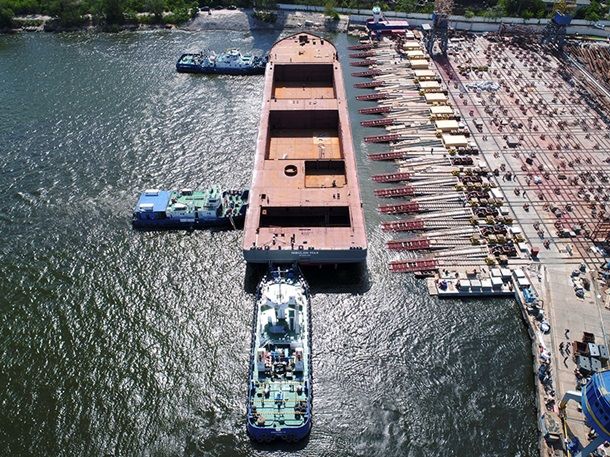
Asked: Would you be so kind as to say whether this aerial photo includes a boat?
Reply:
Yes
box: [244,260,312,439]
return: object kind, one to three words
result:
boat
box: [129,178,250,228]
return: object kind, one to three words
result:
boat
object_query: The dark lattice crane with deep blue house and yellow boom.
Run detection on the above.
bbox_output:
[529,0,571,57]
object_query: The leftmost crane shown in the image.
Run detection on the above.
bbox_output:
[426,0,458,58]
